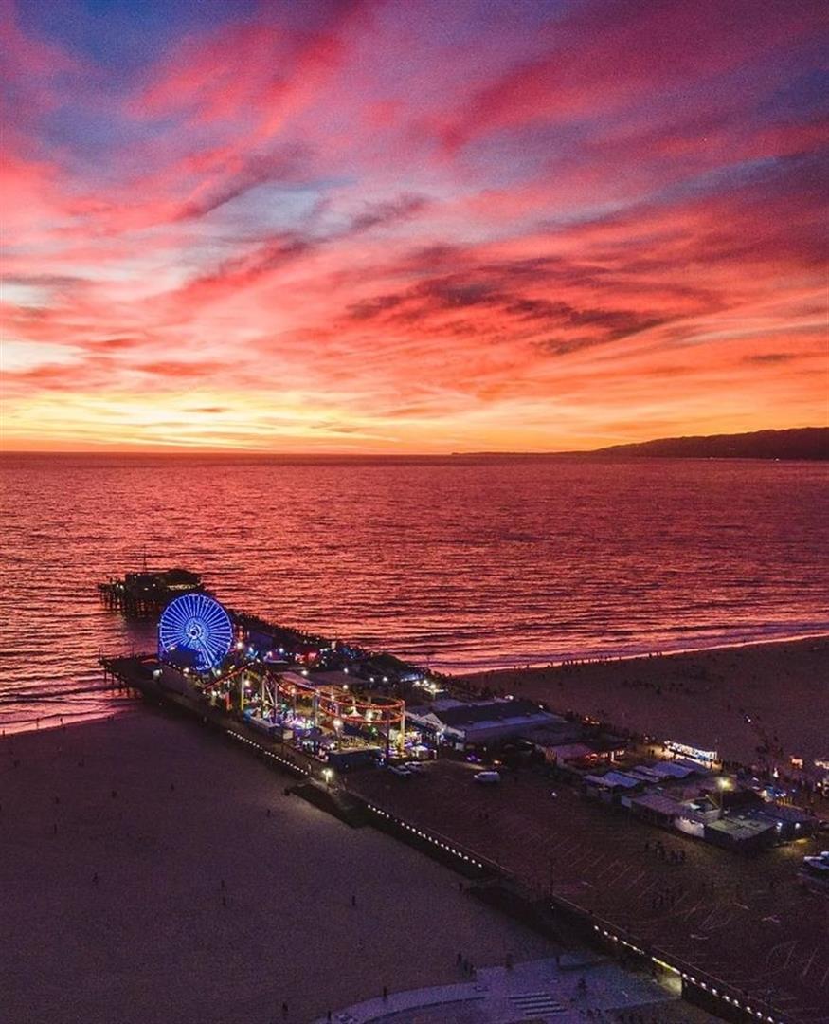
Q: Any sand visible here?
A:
Yes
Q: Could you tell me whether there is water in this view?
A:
Yes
